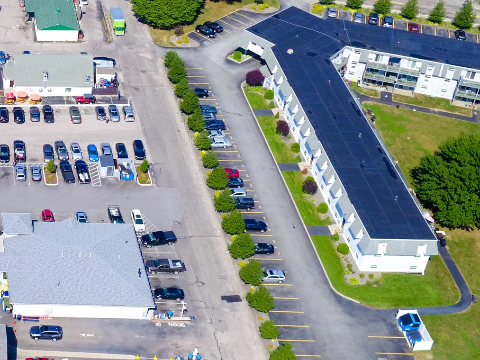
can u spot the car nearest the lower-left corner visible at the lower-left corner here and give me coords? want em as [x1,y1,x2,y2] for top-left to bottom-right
[30,325,62,343]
